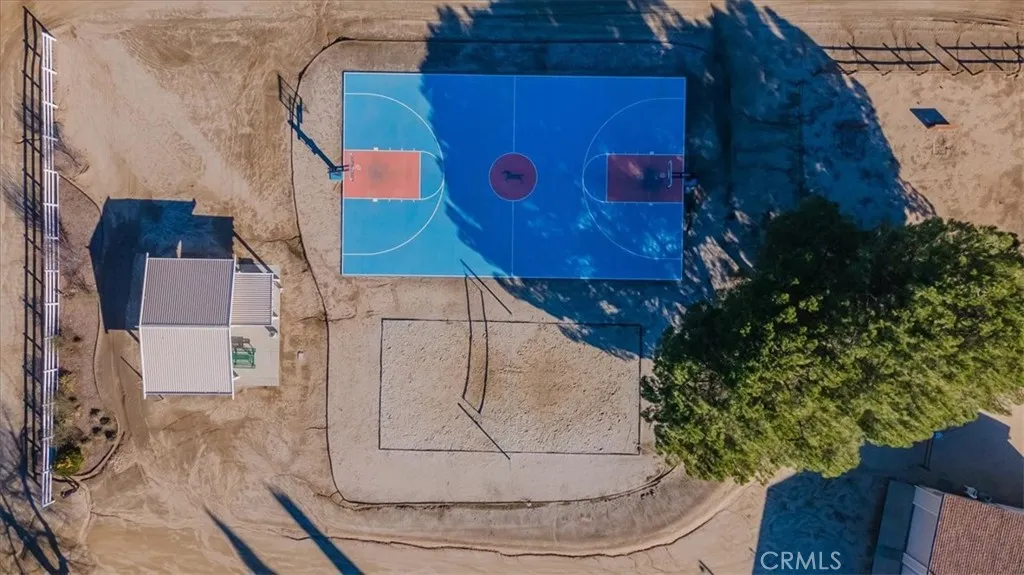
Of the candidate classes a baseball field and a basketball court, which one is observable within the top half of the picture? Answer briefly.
basketball court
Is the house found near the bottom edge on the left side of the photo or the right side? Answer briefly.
right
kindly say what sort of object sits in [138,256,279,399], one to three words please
barn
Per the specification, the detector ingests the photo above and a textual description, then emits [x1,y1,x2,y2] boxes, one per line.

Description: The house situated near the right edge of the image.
[859,476,1024,575]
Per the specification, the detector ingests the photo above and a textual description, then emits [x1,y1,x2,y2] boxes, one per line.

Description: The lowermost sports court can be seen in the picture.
[378,318,642,456]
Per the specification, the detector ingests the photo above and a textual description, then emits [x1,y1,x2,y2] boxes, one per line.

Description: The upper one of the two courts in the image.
[341,72,687,280]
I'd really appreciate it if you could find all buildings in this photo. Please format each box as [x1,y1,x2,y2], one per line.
[138,256,279,399]
[859,476,1024,575]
